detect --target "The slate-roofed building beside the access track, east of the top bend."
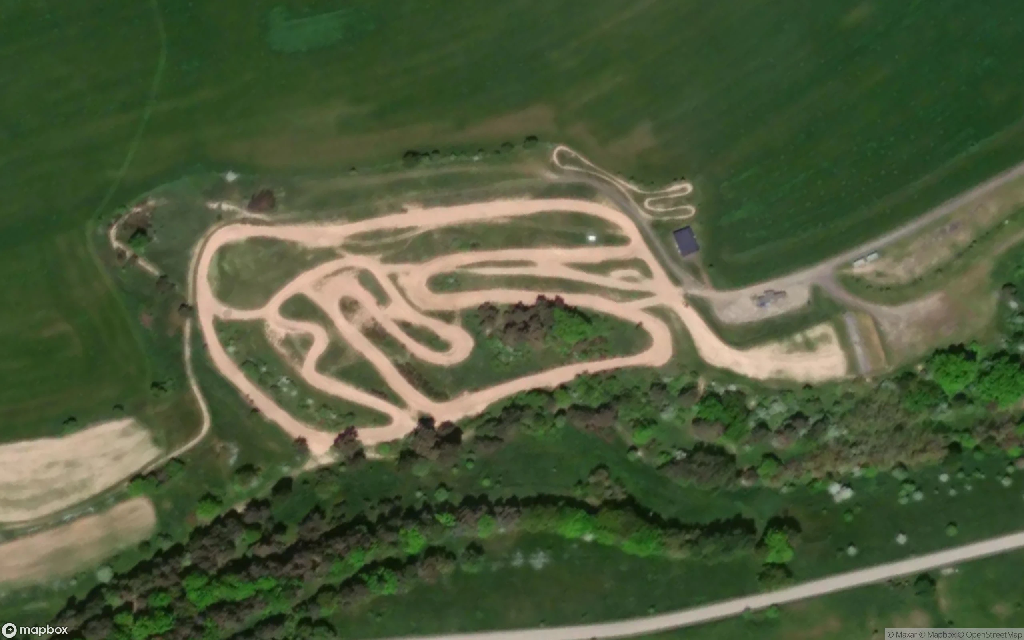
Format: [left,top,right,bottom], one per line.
[673,226,699,257]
